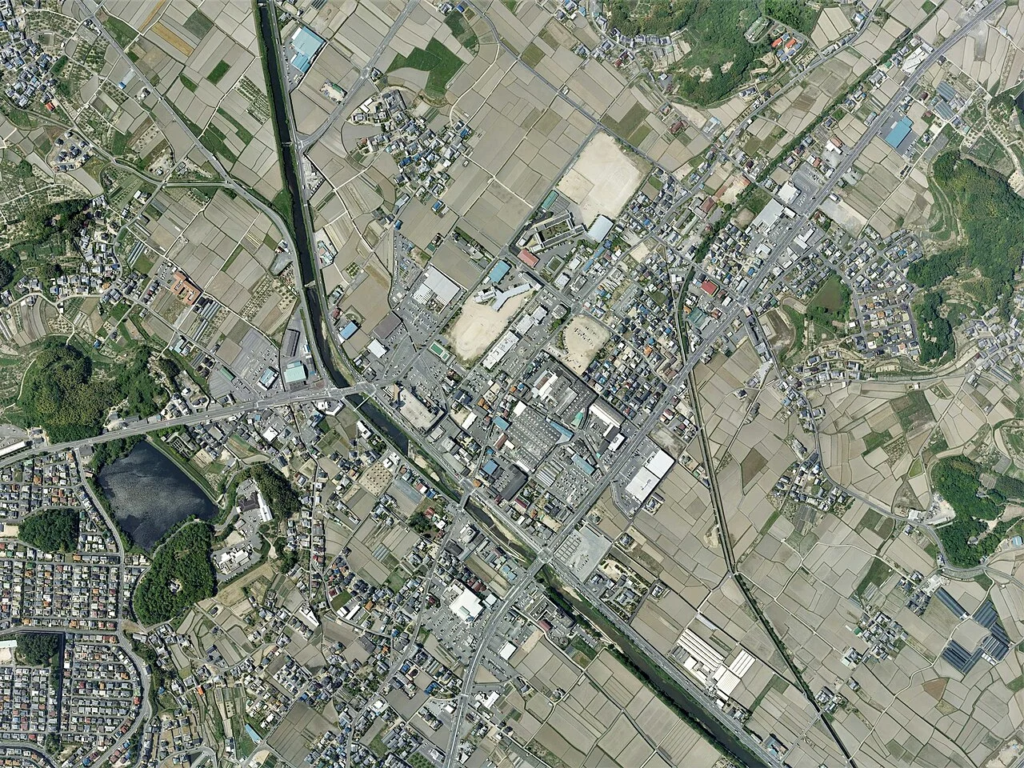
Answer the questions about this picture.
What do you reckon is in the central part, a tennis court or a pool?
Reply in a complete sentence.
The one visible in the central part is a pool.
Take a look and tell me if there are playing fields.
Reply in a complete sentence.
Yes, the picture does show a playing field.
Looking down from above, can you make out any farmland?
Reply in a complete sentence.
Yes, the picture does contain farmland.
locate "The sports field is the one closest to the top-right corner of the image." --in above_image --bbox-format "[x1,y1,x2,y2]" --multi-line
[558,130,644,224]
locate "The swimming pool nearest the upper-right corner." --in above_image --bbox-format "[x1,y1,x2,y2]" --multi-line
[546,254,565,274]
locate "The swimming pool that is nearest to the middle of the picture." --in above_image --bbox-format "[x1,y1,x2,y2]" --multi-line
[429,341,452,362]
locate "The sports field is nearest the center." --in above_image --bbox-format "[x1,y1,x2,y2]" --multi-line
[563,315,609,374]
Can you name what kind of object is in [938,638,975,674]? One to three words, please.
greenhouse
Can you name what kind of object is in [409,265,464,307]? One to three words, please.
house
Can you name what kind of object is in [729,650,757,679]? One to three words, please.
shed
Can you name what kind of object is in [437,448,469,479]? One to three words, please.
building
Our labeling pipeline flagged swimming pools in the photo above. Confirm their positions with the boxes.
[546,254,565,274]
[429,341,452,362]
